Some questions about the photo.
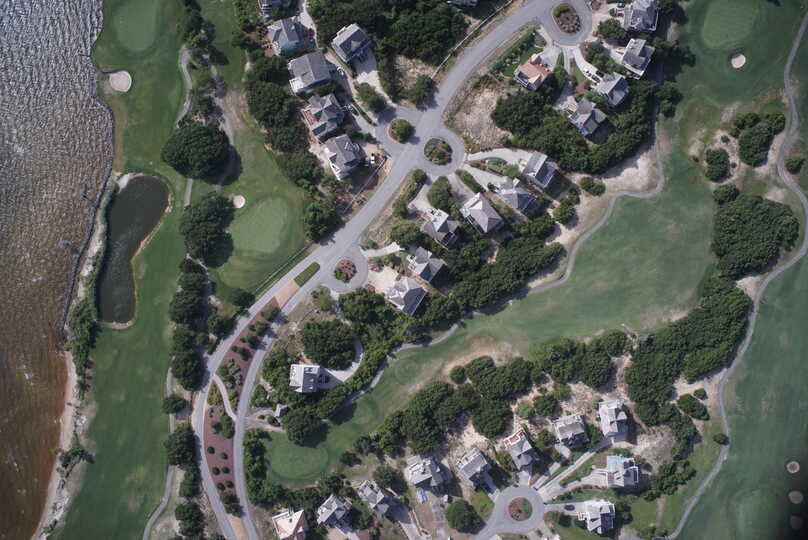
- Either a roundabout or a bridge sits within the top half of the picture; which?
roundabout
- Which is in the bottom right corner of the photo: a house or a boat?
house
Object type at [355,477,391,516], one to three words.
house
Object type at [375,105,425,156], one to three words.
roundabout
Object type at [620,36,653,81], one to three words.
house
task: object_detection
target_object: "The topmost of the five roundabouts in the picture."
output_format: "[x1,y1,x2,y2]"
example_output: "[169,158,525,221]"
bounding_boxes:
[537,0,593,46]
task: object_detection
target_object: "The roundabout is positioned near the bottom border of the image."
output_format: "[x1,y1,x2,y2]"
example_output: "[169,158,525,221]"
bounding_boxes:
[496,484,545,534]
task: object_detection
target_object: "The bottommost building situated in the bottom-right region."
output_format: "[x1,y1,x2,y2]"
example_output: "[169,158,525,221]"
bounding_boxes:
[578,497,615,531]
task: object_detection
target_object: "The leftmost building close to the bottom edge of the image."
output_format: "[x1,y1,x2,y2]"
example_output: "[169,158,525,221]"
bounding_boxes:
[274,502,312,540]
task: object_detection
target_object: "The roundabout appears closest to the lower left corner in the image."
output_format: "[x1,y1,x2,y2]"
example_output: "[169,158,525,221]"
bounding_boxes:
[322,247,369,294]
